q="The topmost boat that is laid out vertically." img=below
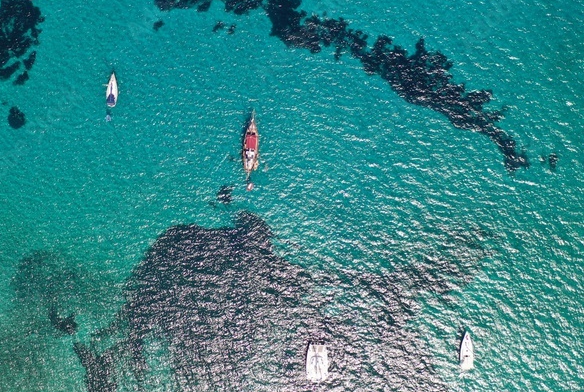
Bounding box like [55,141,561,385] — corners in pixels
[105,73,118,108]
